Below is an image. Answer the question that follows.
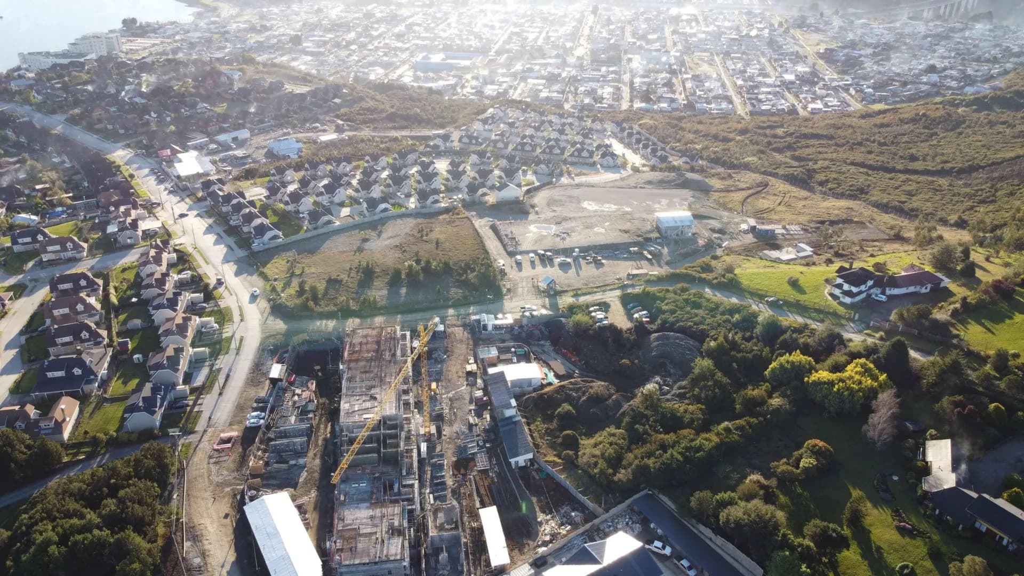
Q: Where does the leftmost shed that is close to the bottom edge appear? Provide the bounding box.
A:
[243,487,340,576]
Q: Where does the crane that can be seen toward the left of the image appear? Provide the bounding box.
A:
[331,320,443,487]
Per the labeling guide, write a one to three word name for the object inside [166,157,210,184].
building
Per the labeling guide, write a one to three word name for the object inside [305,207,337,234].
house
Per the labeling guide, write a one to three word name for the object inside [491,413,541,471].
shed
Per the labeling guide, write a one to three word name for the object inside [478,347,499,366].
shed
